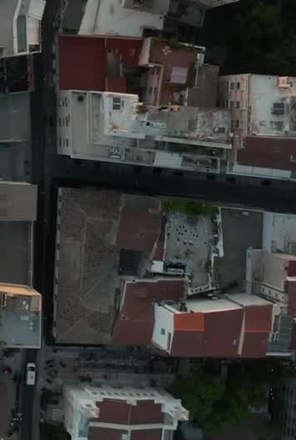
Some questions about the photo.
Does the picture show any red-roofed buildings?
Yes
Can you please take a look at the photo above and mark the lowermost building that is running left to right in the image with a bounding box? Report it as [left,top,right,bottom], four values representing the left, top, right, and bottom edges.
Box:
[58,379,190,440]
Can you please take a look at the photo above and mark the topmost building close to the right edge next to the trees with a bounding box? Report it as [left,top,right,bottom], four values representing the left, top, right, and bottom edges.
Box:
[218,74,296,137]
